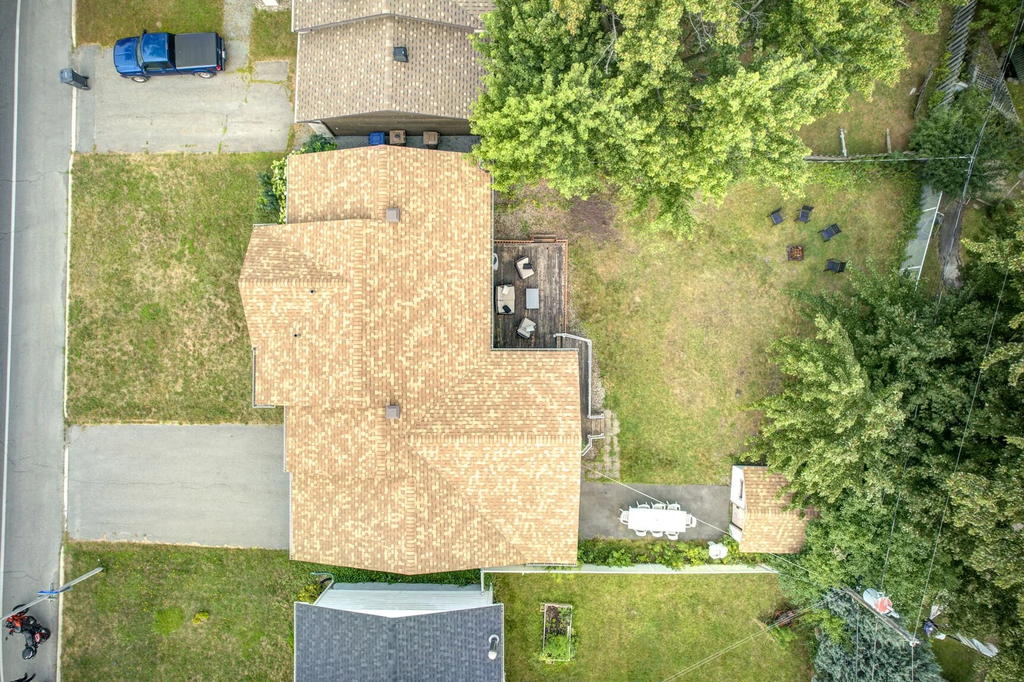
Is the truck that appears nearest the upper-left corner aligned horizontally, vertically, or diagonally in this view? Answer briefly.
horizontally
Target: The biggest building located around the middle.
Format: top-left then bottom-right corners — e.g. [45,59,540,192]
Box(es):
[239,144,581,574]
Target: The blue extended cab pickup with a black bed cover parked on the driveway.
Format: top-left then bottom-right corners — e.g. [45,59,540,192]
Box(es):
[111,28,230,83]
